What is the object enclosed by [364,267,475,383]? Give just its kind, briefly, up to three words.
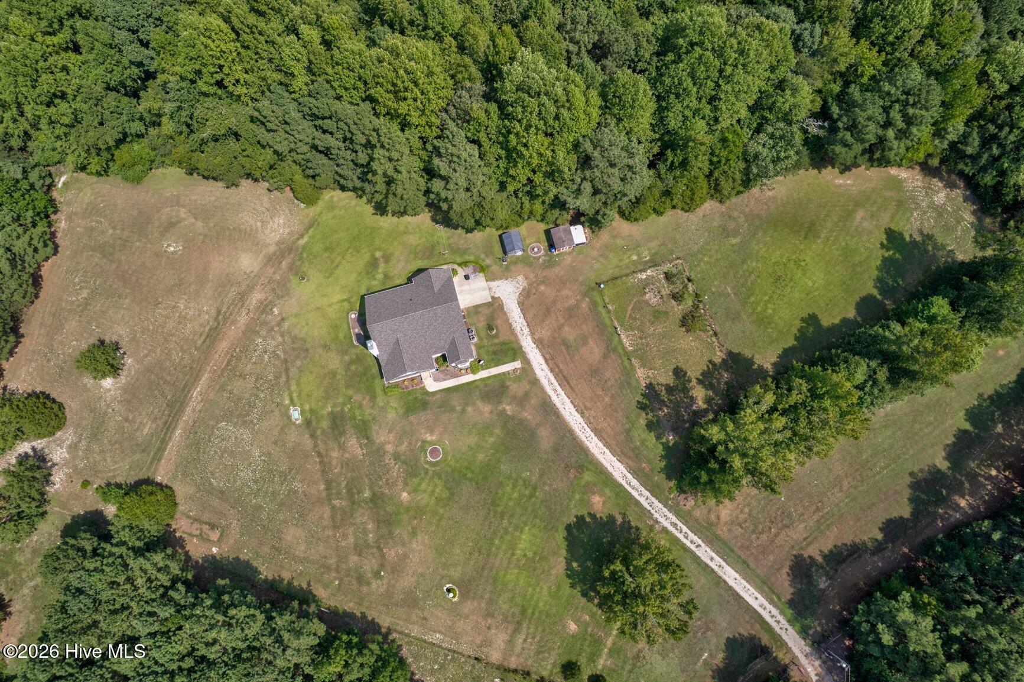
house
